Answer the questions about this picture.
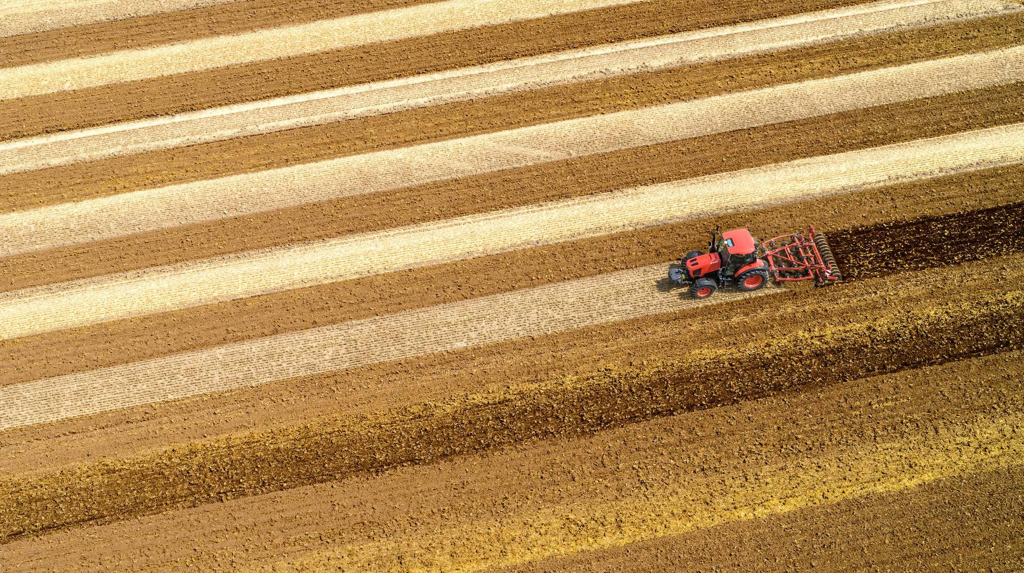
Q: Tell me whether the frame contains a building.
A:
No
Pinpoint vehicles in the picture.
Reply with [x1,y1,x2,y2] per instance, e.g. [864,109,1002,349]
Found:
[680,225,769,299]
